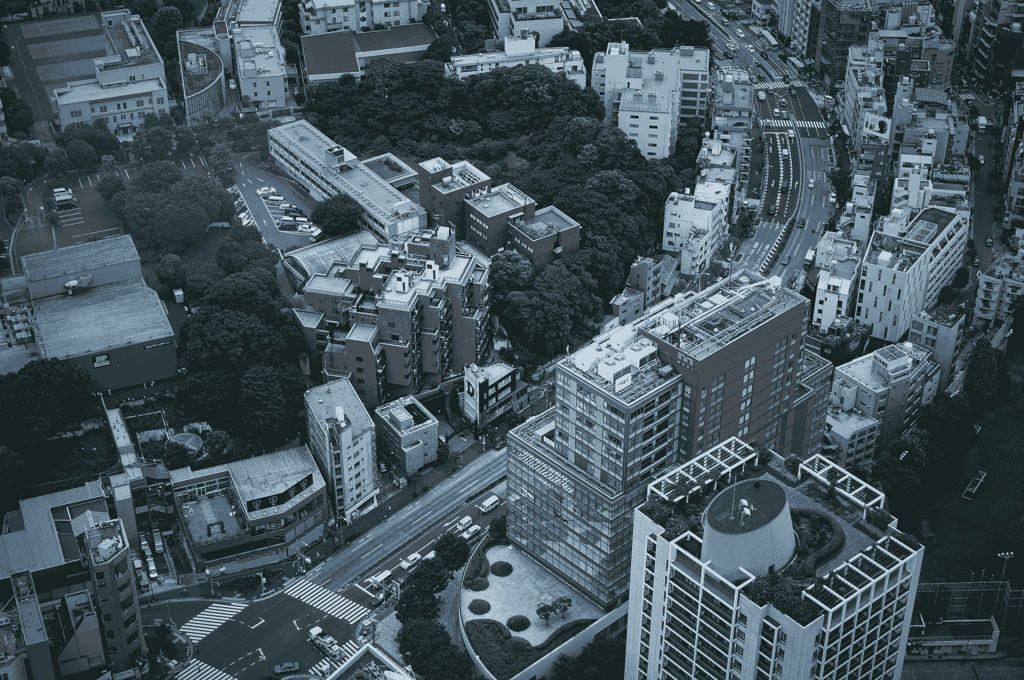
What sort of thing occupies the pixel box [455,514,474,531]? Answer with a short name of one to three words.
vehicle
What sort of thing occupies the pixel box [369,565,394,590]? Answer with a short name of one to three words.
truck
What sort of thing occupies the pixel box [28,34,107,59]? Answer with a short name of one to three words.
tennis court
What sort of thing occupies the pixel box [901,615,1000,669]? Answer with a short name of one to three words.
building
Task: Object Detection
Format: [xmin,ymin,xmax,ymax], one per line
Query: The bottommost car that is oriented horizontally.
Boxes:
[275,663,299,675]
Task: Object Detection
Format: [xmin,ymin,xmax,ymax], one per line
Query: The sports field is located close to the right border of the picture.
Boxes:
[905,360,1024,659]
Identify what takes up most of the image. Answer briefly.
buildings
